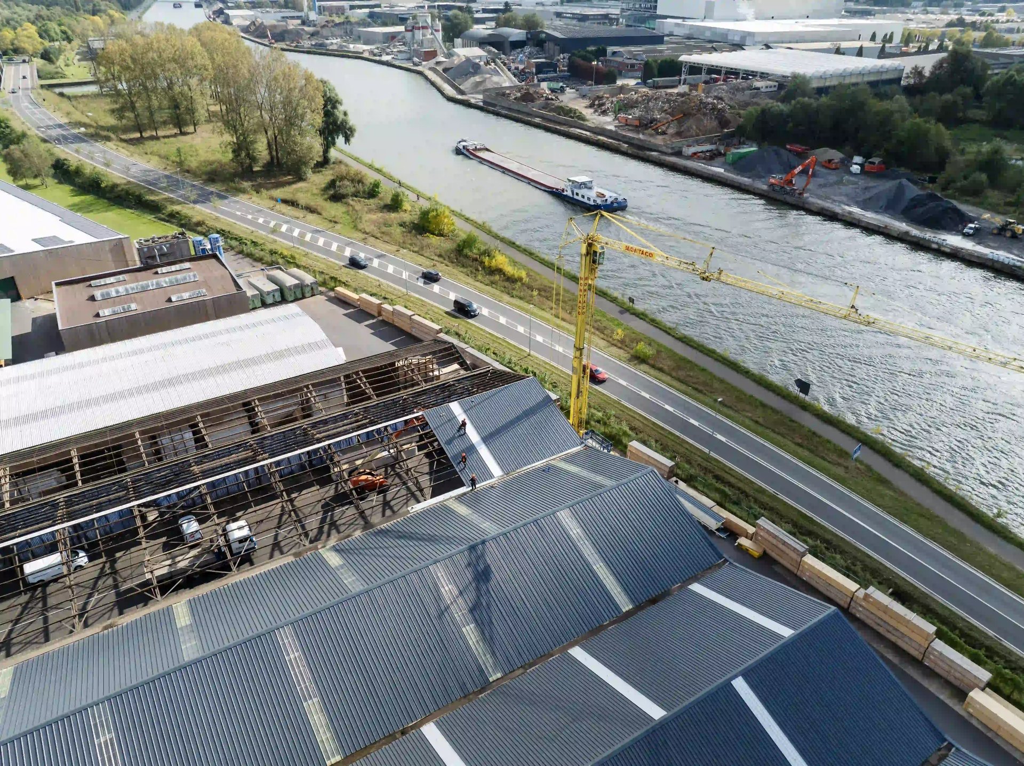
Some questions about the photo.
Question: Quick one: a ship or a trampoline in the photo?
ship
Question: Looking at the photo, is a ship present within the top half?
Yes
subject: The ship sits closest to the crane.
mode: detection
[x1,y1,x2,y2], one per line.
[463,139,629,208]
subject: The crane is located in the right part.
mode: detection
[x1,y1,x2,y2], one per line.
[557,211,1024,446]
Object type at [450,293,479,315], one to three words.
vehicle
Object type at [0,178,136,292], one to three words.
building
